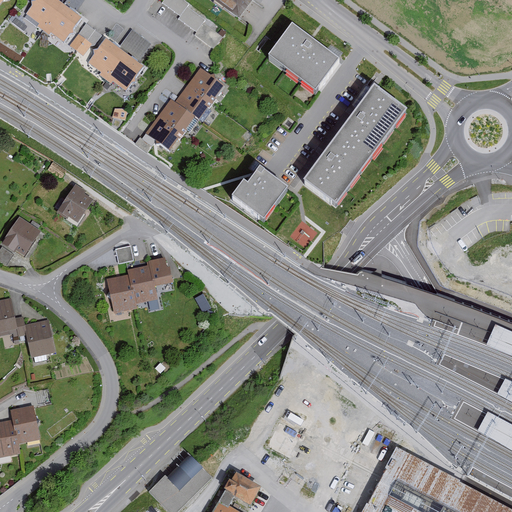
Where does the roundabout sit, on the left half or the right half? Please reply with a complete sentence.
The roundabout is on the right side of the image.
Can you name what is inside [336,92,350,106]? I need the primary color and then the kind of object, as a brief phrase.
blue vehicle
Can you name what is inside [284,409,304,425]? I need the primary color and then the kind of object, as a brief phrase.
white vehicle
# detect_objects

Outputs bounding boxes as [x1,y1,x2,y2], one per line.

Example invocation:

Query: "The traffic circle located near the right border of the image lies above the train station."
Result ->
[445,90,512,172]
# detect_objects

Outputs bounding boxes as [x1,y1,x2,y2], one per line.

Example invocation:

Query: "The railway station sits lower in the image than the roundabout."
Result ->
[434,313,512,500]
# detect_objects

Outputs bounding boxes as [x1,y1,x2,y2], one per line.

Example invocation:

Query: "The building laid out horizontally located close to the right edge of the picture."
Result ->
[362,446,512,512]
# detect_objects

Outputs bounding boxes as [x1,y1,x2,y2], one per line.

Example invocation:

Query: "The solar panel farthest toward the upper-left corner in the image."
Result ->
[112,62,136,86]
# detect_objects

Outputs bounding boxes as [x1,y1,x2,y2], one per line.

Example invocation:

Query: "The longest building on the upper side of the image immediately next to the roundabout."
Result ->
[305,82,408,210]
